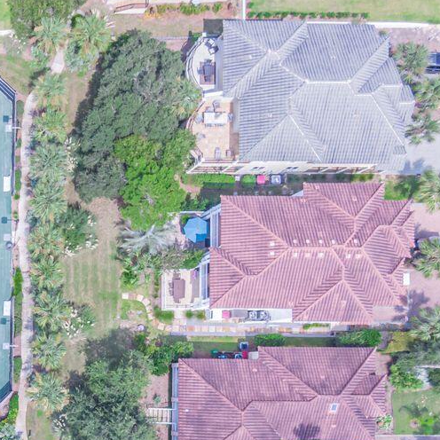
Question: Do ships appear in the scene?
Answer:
No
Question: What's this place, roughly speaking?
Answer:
residential area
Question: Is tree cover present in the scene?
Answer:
Yes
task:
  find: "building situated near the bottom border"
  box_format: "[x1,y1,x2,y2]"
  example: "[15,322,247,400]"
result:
[166,346,388,440]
